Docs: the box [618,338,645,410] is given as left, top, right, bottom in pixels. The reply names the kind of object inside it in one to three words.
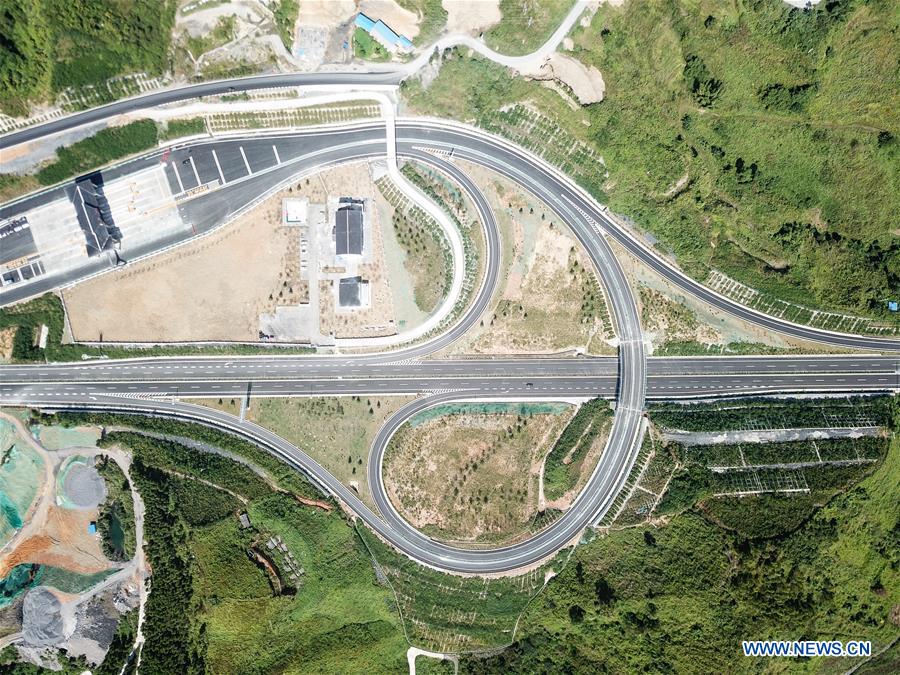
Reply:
overpass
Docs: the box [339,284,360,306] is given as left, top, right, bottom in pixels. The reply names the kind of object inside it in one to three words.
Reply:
building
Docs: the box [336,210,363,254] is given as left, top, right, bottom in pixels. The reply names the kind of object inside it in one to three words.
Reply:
building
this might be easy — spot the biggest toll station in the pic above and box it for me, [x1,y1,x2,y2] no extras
[65,178,120,261]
